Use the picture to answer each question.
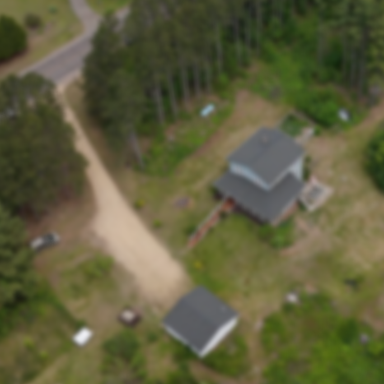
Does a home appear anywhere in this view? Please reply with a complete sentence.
Yes, a home can be made out from above.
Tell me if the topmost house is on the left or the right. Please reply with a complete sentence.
It is on the right.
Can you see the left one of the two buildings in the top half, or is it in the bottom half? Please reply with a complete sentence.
It is in the bottom half that the left one of the two buildings appears.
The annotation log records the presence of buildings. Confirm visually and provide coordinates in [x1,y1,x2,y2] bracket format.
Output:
[162,287,239,359]
[212,126,307,230]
